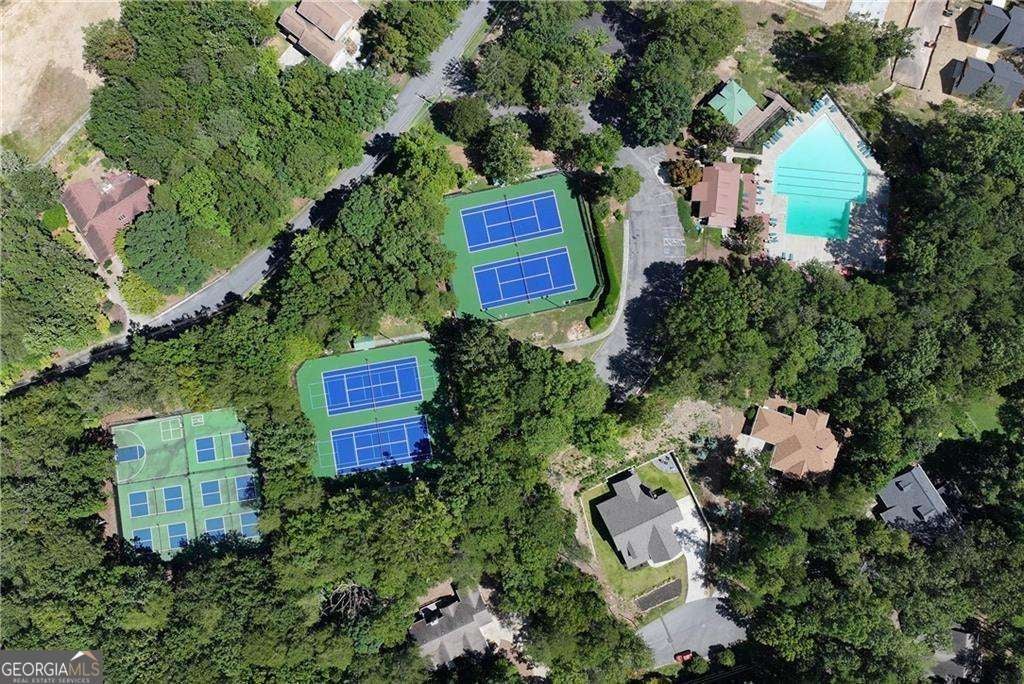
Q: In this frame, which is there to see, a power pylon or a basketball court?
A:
basketball court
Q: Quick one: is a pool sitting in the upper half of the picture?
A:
Yes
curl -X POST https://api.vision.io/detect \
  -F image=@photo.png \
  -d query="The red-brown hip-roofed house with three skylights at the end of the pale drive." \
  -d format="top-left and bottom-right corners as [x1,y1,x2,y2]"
[61,173,153,263]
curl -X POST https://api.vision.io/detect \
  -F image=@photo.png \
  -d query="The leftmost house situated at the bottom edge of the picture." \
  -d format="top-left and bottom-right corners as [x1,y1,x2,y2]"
[411,580,493,669]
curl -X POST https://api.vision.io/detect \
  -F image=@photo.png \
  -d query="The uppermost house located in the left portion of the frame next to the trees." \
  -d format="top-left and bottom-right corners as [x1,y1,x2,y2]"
[278,0,365,66]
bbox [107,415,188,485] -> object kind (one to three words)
basketball court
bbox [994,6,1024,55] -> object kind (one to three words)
house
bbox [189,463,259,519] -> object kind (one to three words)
sports court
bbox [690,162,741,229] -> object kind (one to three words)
building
